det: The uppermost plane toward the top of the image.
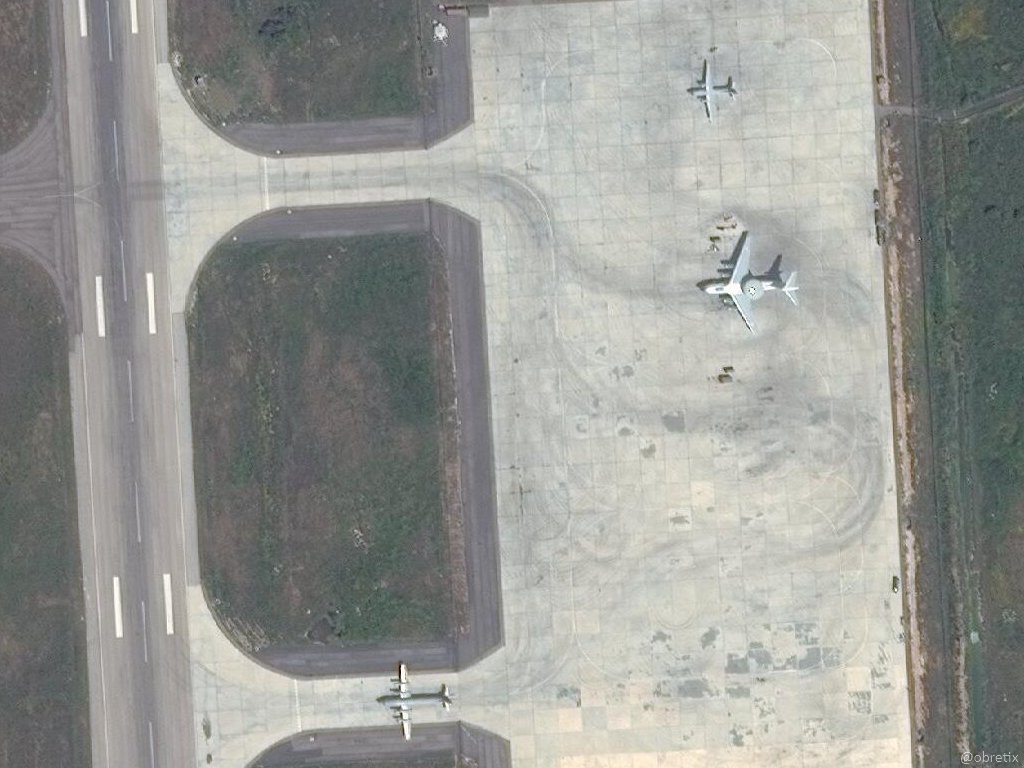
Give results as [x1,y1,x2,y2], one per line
[691,63,739,121]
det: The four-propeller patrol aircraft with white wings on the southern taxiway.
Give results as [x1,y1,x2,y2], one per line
[380,665,458,739]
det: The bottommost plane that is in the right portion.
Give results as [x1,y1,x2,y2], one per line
[703,237,800,335]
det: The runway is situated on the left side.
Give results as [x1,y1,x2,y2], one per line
[63,0,198,768]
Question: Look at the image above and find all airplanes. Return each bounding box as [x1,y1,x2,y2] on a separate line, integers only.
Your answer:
[703,237,800,335]
[691,63,739,121]
[380,665,458,739]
